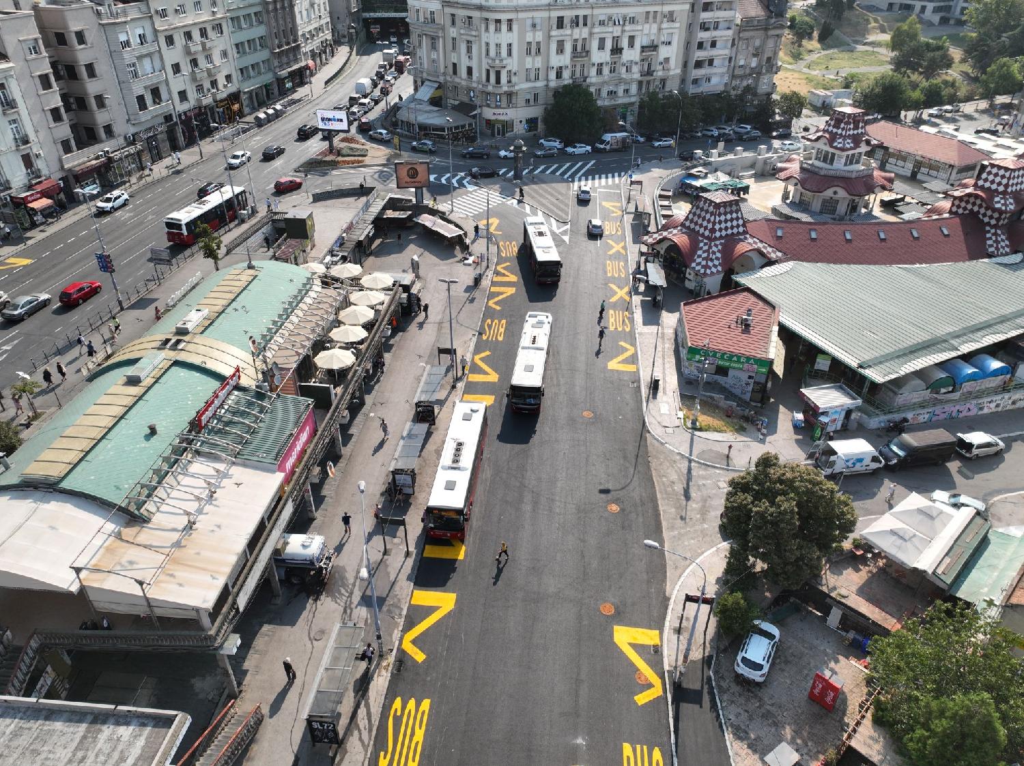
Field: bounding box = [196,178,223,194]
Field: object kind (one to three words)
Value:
car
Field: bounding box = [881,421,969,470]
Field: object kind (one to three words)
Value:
van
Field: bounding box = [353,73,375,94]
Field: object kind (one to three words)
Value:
truck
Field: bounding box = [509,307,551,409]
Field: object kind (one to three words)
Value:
bus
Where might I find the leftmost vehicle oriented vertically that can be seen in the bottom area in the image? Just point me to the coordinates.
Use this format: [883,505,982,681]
[424,400,487,536]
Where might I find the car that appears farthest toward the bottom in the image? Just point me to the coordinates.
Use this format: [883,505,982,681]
[741,621,781,695]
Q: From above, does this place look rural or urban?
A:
urban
